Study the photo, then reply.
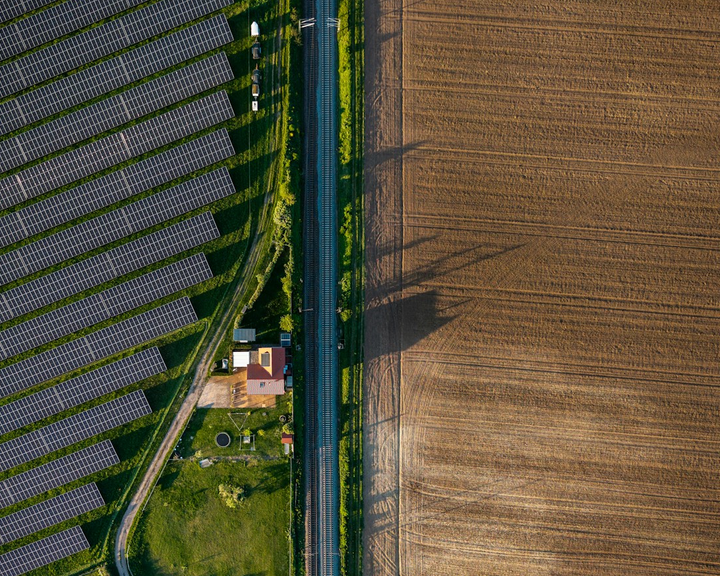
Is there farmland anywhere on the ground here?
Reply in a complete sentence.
Yes, farmland shows up in the scene.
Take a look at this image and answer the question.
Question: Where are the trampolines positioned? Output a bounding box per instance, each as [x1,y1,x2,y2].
[215,433,231,449]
